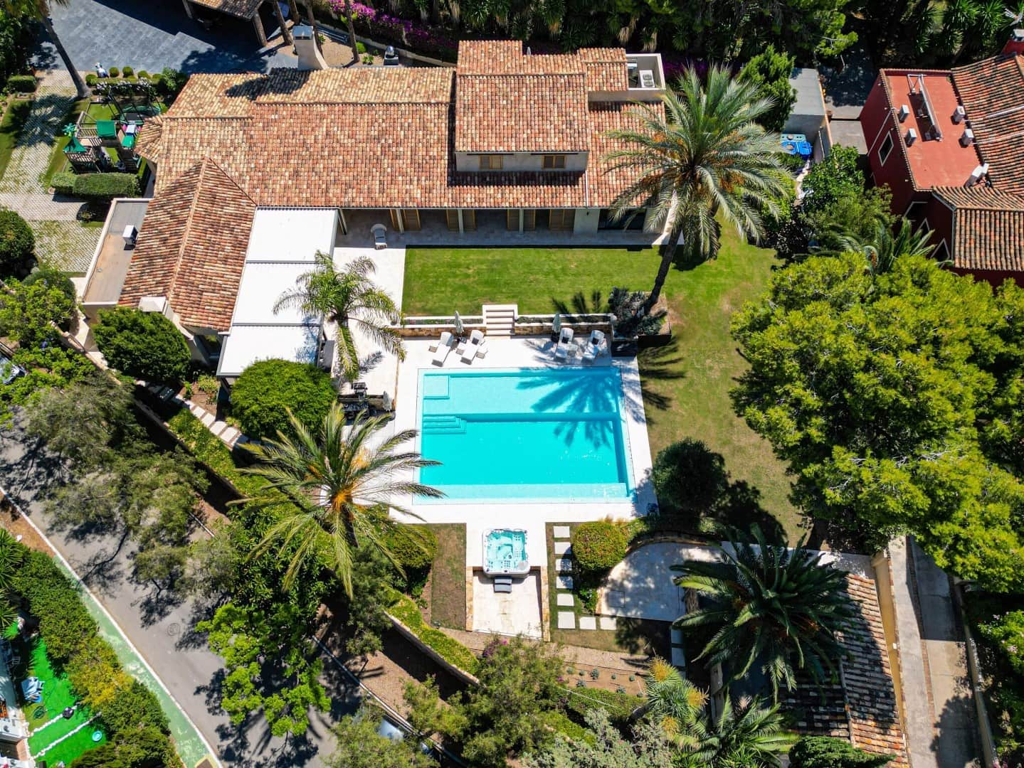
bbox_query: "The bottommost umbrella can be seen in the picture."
[381,392,395,423]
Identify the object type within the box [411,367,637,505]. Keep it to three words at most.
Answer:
swimming pool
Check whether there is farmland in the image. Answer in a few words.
No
